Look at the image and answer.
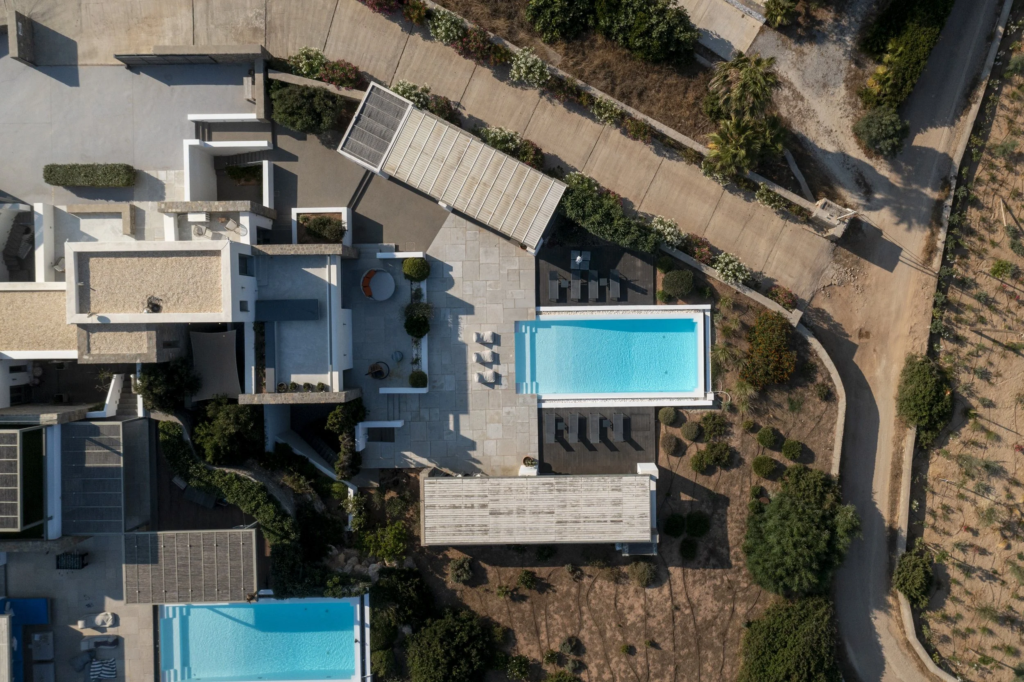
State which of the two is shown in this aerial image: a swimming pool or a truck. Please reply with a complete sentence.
There is a swimming pool in the scene.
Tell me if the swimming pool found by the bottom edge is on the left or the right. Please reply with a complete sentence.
You can find the swimming pool found by the bottom edge on the left side of the picture.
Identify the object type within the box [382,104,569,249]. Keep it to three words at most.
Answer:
building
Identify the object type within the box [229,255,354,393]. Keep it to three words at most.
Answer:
house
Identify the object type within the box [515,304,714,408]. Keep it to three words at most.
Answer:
swimming pool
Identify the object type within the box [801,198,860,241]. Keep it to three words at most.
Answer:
shed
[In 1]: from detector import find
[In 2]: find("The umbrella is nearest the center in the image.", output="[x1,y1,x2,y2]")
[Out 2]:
[571,250,591,270]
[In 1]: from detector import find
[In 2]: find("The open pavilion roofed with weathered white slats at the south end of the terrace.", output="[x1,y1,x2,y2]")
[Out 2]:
[420,464,659,546]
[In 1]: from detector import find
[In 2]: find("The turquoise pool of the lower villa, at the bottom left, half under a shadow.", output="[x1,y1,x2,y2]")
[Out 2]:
[147,587,371,682]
